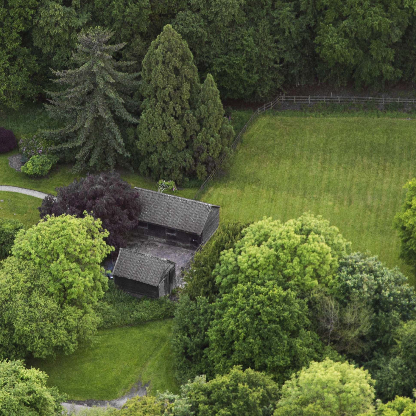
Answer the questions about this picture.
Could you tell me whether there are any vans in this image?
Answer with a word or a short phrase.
No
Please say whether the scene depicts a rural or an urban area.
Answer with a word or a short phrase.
rural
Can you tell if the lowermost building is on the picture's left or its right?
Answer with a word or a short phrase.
left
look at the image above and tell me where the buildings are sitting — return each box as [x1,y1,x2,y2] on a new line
[112,252,176,296]
[129,187,220,243]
